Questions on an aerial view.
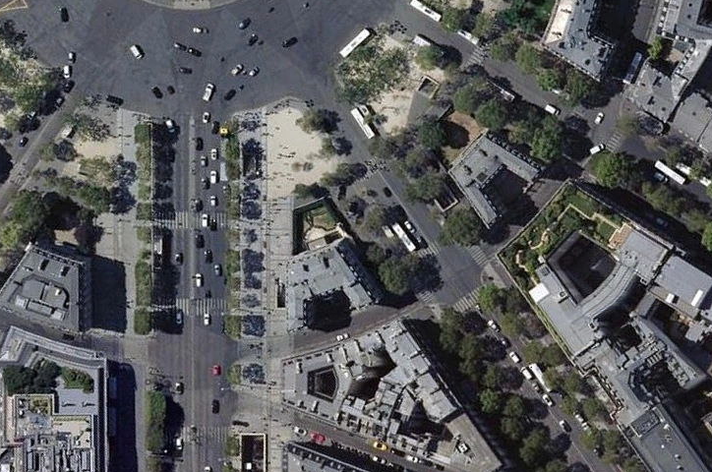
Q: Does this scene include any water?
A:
No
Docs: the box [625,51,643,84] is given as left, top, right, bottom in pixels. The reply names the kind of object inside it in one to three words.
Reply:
vehicle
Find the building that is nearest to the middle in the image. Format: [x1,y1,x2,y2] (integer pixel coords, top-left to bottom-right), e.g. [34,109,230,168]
[287,234,384,332]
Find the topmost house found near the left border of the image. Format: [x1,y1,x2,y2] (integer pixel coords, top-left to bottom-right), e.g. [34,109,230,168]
[0,243,96,333]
